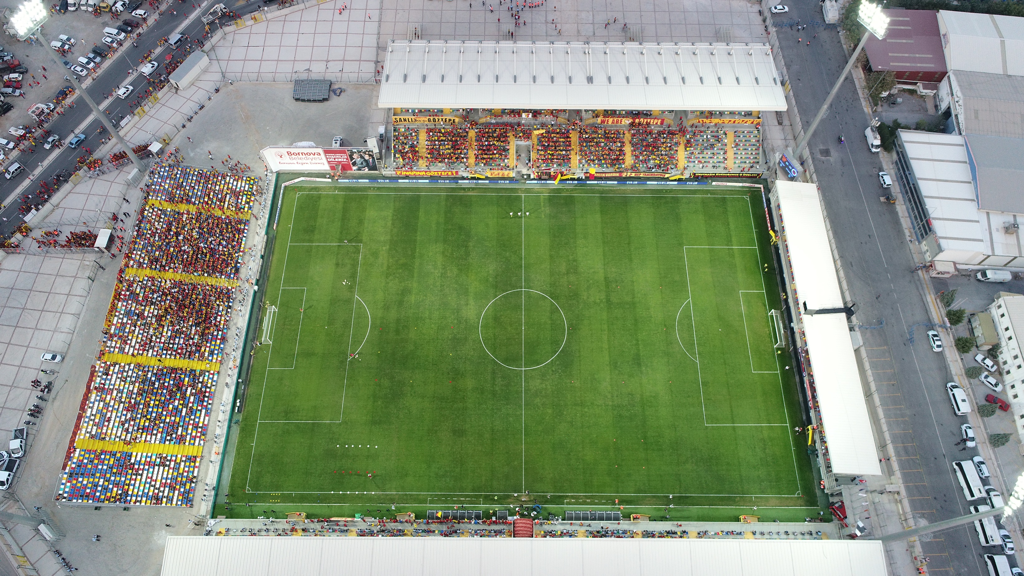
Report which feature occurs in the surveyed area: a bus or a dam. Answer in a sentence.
Visible in the photo is a bus.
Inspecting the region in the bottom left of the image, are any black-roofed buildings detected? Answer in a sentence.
No, looking in the bottom left of the image, there is no black-roofed building.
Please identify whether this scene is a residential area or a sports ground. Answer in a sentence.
The area seen from above is a sports ground.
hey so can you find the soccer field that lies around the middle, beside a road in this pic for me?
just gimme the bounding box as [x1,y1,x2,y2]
[213,170,833,522]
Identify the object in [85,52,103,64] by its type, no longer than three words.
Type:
vehicle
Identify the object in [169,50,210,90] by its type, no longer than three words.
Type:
building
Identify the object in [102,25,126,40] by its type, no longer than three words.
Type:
vehicle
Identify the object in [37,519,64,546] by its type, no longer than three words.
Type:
building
